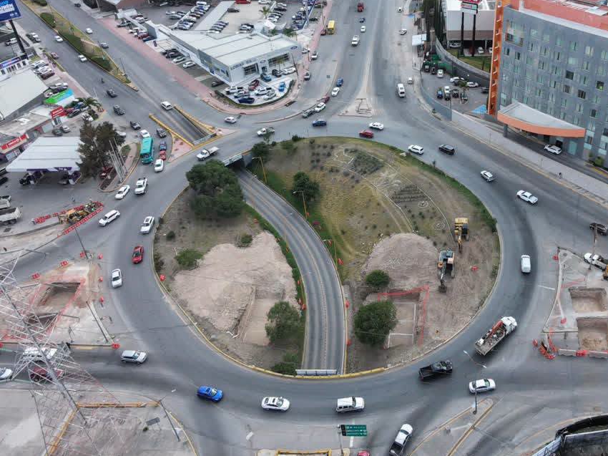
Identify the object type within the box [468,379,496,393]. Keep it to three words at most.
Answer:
car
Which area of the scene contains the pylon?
bottom left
